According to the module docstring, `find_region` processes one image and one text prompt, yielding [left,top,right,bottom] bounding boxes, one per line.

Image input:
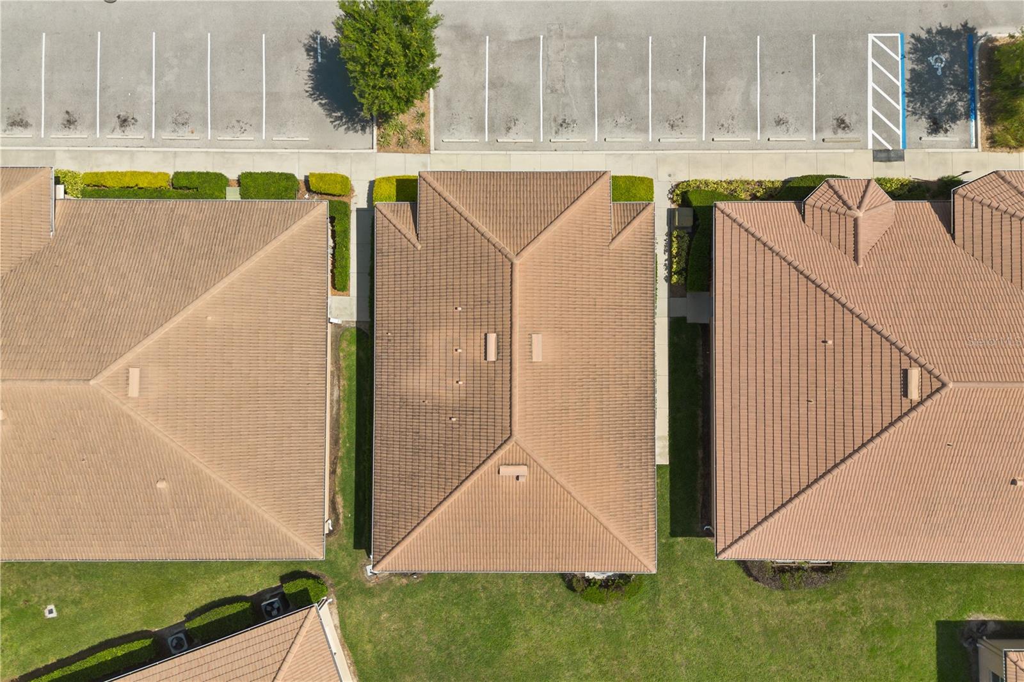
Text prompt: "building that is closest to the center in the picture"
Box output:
[374,171,656,573]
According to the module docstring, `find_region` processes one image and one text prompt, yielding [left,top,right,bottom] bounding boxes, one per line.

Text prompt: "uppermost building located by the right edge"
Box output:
[700,170,1024,562]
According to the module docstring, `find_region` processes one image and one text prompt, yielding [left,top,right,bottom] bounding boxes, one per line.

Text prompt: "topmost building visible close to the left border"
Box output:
[0,166,340,562]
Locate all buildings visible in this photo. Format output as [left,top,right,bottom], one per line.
[109,594,363,682]
[700,170,1024,562]
[0,166,340,562]
[973,632,1024,682]
[374,171,656,573]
